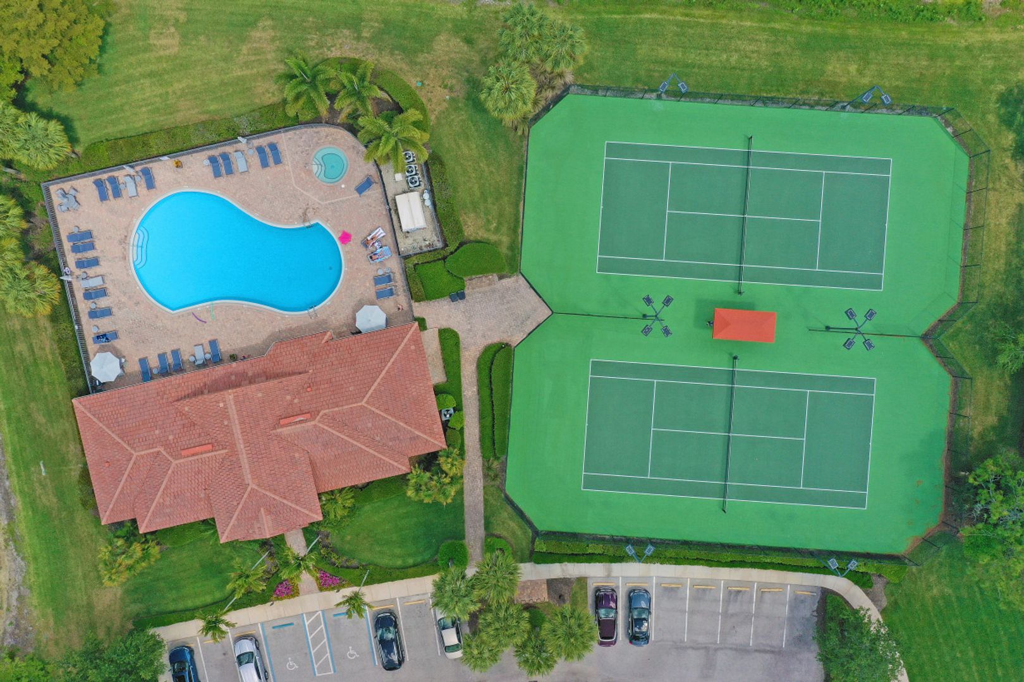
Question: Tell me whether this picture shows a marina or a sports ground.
sports ground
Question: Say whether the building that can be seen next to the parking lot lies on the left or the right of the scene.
left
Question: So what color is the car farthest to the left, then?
blue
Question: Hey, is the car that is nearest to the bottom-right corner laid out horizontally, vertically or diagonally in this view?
vertically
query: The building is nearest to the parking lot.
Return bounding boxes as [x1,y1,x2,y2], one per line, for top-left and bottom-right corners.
[71,321,446,544]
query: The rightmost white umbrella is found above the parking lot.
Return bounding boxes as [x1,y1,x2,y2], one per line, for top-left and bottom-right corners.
[357,305,386,332]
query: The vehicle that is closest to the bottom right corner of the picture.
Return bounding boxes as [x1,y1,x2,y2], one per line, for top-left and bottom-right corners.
[627,588,653,646]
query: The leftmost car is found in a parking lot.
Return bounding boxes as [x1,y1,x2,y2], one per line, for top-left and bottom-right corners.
[172,644,204,682]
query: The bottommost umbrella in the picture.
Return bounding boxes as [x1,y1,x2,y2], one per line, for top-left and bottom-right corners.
[93,352,123,381]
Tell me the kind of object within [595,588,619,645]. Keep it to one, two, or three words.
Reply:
car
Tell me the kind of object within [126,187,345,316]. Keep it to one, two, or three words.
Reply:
swimming pool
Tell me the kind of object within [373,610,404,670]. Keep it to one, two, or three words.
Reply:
car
